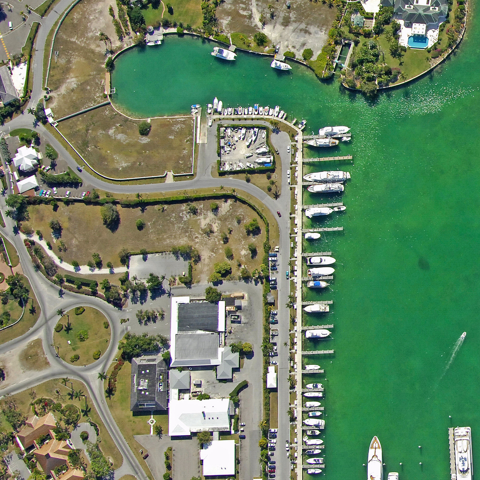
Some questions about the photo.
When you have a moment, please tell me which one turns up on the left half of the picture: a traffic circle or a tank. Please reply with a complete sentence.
Looking on the left half of the picture, you will find a traffic circle.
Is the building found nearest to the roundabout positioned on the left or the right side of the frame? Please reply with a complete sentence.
You can find the building found nearest to the roundabout on the left side of the picture.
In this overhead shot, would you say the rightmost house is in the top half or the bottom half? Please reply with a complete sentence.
You can find the rightmost house in the top half.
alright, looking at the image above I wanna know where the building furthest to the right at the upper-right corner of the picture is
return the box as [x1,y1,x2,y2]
[393,0,448,36]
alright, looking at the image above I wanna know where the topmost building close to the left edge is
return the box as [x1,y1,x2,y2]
[0,61,21,106]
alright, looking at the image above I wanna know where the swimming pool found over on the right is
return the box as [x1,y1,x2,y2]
[407,36,430,51]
